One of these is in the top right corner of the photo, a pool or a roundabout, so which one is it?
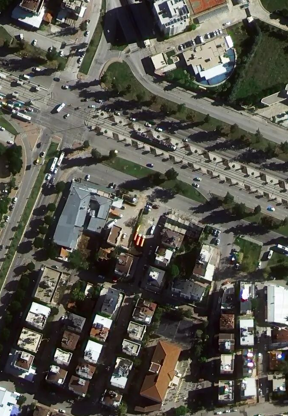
pool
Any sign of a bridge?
No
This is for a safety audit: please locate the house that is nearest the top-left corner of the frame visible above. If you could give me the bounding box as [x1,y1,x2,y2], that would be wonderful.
[12,0,45,29]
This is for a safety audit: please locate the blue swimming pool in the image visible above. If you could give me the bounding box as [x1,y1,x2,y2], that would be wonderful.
[197,47,237,83]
